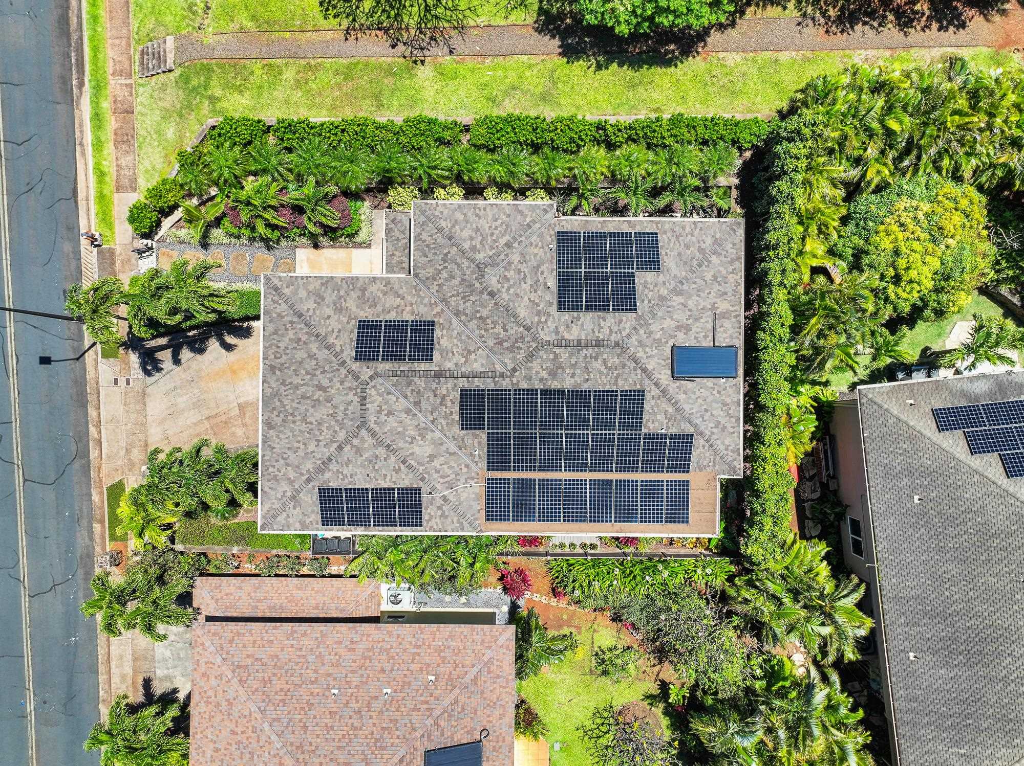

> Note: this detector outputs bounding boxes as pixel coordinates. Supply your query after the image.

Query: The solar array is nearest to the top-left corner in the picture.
[353,319,435,362]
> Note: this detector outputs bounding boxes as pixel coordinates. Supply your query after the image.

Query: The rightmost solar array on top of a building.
[933,395,1024,479]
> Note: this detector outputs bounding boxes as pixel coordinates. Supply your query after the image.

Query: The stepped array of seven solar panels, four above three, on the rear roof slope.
[556,230,662,312]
